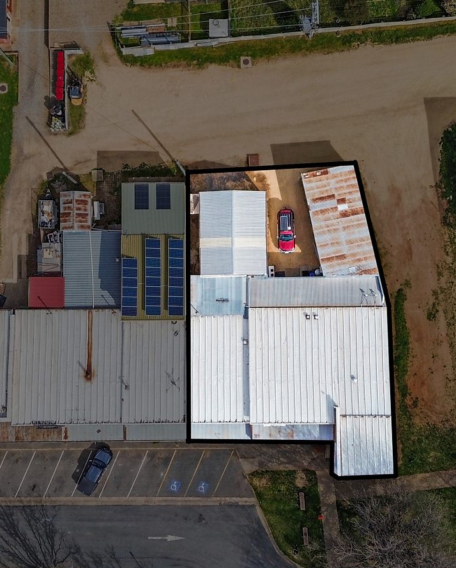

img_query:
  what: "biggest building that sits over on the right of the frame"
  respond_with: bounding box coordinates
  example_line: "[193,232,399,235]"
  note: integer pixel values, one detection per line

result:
[190,275,397,477]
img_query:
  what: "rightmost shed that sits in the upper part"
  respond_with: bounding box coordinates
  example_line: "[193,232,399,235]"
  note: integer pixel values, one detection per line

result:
[299,165,381,276]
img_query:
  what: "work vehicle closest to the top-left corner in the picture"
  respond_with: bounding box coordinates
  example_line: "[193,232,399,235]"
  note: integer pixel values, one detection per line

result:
[66,75,84,108]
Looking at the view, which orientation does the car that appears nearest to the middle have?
from top to bottom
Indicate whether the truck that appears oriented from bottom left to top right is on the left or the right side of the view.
left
